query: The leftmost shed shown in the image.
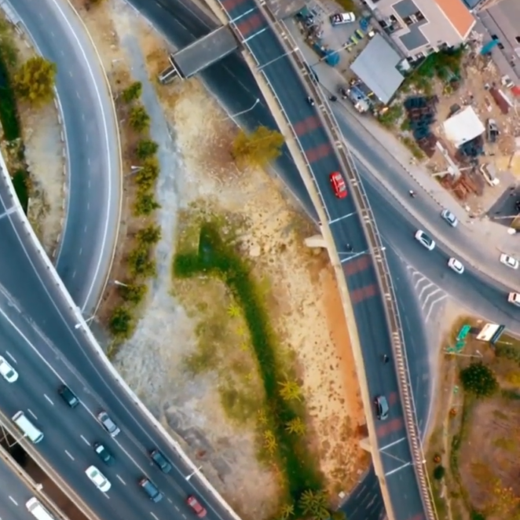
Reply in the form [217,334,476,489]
[336,35,406,110]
